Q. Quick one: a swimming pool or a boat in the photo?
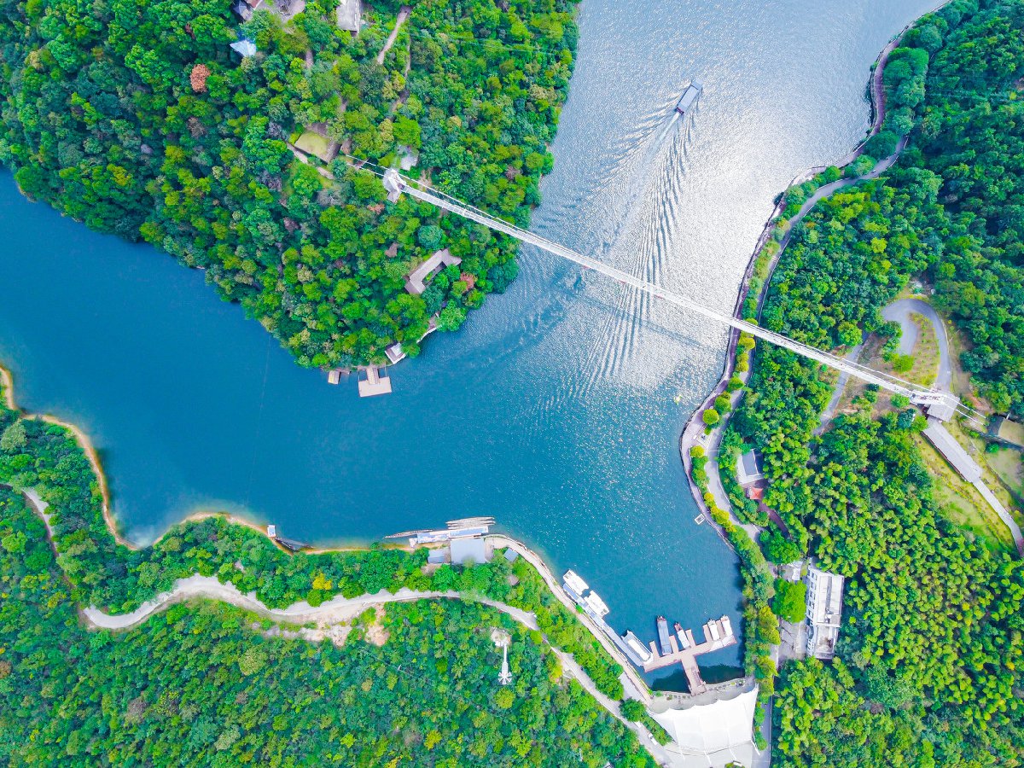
boat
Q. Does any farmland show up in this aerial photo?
No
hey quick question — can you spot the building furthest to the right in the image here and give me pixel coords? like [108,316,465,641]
[984,418,1024,447]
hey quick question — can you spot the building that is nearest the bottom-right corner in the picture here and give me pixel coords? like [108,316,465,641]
[805,567,845,659]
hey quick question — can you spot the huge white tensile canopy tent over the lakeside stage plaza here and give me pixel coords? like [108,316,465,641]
[652,682,759,766]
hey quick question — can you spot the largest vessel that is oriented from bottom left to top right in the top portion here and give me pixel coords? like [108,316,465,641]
[677,76,706,112]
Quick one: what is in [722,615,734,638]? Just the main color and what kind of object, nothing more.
white boat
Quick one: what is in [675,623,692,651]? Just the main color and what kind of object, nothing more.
white boat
